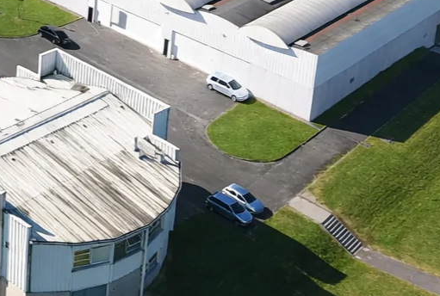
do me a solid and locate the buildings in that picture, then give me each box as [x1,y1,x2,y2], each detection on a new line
[0,45,184,296]
[52,0,440,119]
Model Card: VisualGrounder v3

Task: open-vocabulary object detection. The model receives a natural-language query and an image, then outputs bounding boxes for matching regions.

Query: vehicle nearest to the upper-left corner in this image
[38,29,75,48]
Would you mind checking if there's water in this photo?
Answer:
No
